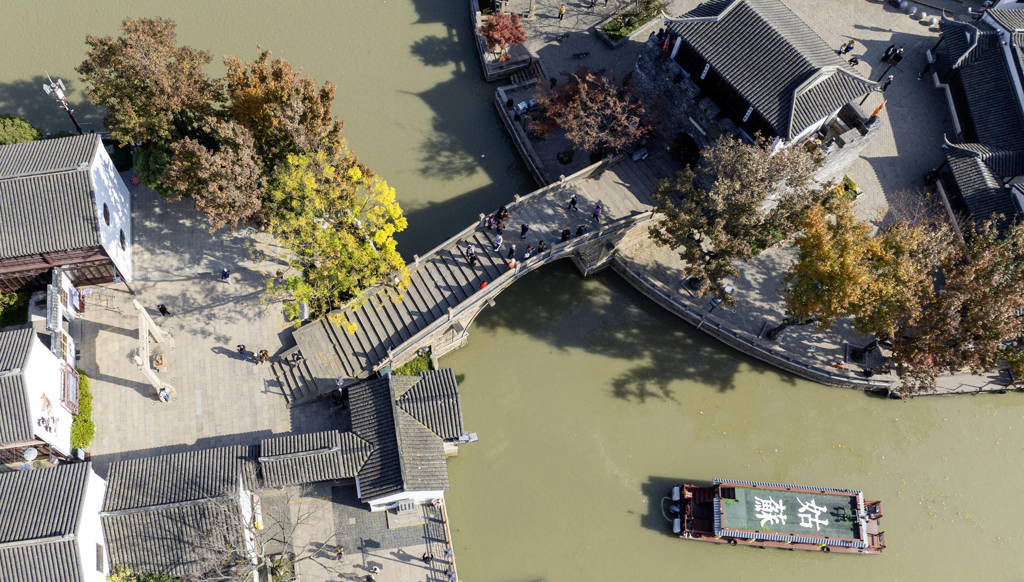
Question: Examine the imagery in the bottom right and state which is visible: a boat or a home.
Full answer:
The feature located in the bottom right is a boat.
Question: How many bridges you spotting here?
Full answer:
Altogether the scene contains 1 bridge.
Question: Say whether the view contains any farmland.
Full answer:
No, there's no farmland in this view.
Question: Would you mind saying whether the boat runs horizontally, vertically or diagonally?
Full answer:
The boat has been laid out horizontally relative to the frame.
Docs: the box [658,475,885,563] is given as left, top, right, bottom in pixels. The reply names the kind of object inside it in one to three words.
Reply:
boat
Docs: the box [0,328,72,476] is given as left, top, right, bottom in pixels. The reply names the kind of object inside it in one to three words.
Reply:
house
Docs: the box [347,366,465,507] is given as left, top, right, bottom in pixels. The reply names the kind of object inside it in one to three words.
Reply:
building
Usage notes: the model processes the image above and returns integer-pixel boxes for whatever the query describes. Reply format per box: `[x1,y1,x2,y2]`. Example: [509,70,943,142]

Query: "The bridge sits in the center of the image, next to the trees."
[265,154,682,416]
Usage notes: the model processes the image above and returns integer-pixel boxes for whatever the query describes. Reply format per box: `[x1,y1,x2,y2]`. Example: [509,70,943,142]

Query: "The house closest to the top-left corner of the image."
[0,133,127,293]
